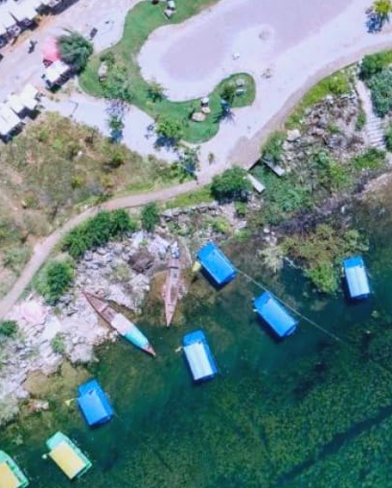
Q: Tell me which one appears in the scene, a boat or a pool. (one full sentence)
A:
This aerial view contains a boat.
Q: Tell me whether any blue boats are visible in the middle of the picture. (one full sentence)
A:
Yes, the scene does show a blue boat in the middle of the picture.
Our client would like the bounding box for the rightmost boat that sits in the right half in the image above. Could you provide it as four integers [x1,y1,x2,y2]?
[344,257,369,300]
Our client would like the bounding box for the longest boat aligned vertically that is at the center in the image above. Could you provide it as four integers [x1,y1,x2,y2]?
[163,237,180,329]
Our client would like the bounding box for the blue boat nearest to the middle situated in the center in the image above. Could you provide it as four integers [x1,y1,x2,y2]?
[195,242,236,285]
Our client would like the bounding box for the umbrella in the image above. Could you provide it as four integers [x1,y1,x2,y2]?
[43,42,61,60]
